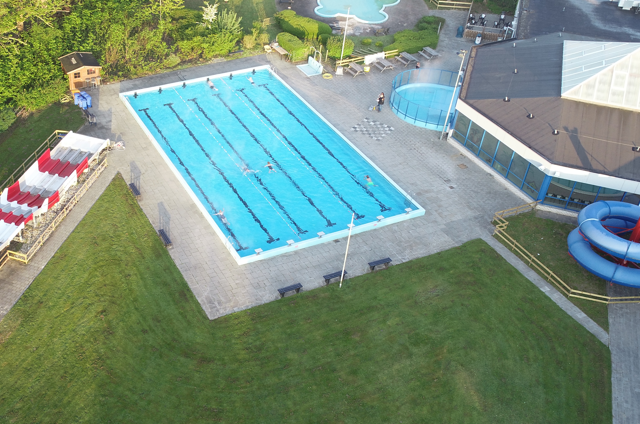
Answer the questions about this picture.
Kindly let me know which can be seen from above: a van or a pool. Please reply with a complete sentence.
The one in the frame is a pool.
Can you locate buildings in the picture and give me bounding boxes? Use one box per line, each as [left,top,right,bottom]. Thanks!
[58,50,104,90]
[449,30,640,226]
